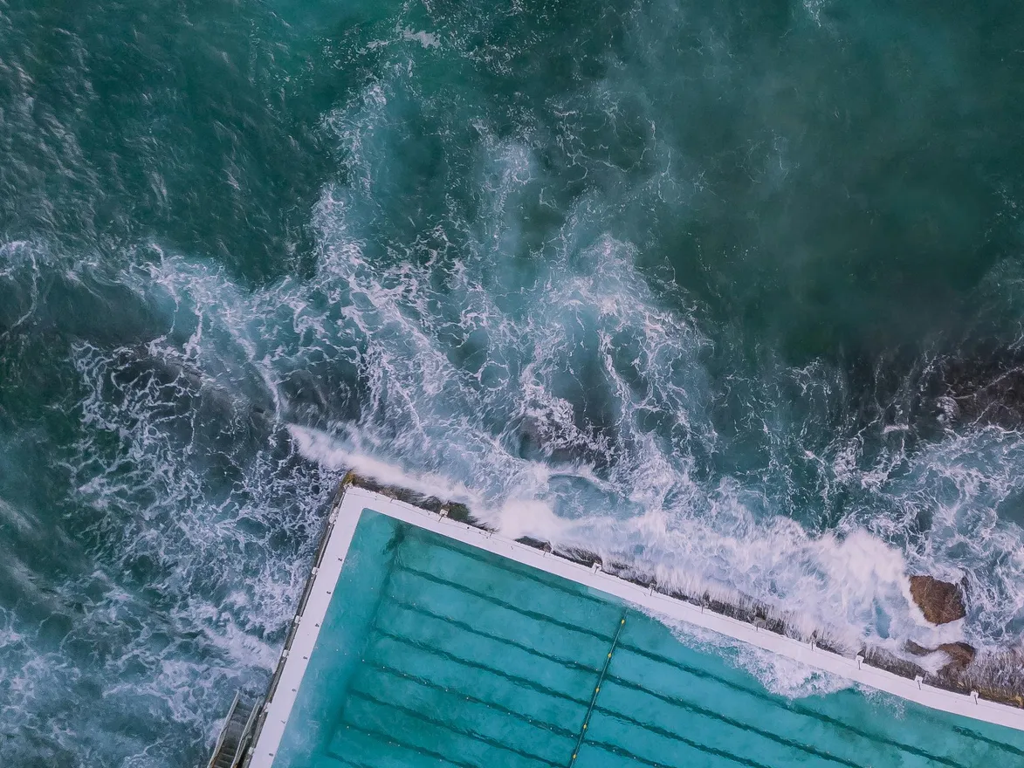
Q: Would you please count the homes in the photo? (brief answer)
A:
none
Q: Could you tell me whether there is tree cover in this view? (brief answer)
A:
No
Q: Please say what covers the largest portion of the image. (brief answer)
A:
water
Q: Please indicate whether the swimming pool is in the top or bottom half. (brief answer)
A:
bottom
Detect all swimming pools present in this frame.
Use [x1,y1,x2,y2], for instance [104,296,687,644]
[272,511,1024,768]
